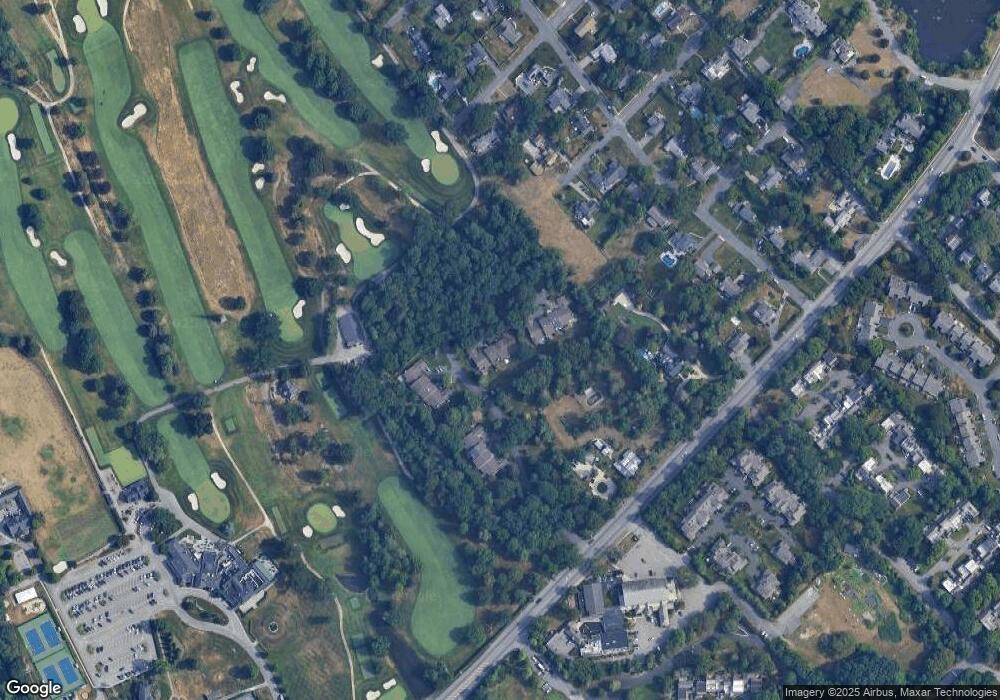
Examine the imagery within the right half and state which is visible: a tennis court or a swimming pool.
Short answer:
swimming pool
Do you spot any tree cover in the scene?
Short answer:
Yes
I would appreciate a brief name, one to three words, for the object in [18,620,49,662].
tennis court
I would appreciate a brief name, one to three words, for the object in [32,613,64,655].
tennis court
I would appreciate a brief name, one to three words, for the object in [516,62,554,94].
house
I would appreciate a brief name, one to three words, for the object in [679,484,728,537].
building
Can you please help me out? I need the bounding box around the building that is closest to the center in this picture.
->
[466,330,520,376]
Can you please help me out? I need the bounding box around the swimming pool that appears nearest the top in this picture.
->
[796,40,813,57]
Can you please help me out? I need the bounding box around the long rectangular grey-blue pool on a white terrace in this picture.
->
[880,154,900,180]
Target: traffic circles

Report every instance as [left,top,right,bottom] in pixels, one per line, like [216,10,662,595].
[888,312,924,348]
